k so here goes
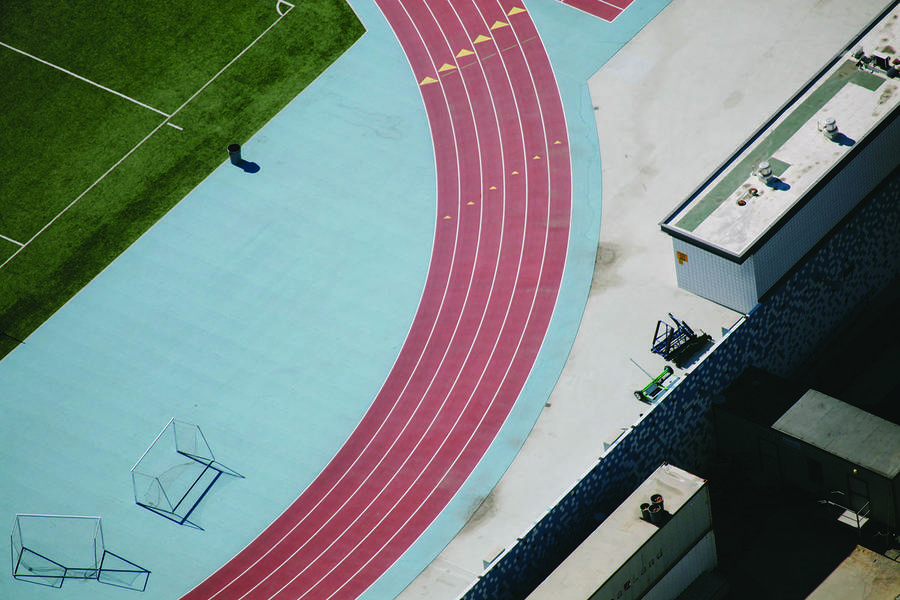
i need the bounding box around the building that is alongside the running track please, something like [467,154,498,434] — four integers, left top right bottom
[659,0,900,315]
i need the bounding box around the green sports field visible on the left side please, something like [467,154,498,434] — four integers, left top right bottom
[0,0,368,364]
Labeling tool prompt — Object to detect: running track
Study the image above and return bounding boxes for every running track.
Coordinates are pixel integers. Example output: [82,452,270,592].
[0,0,671,600]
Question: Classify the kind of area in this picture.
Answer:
sports ground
